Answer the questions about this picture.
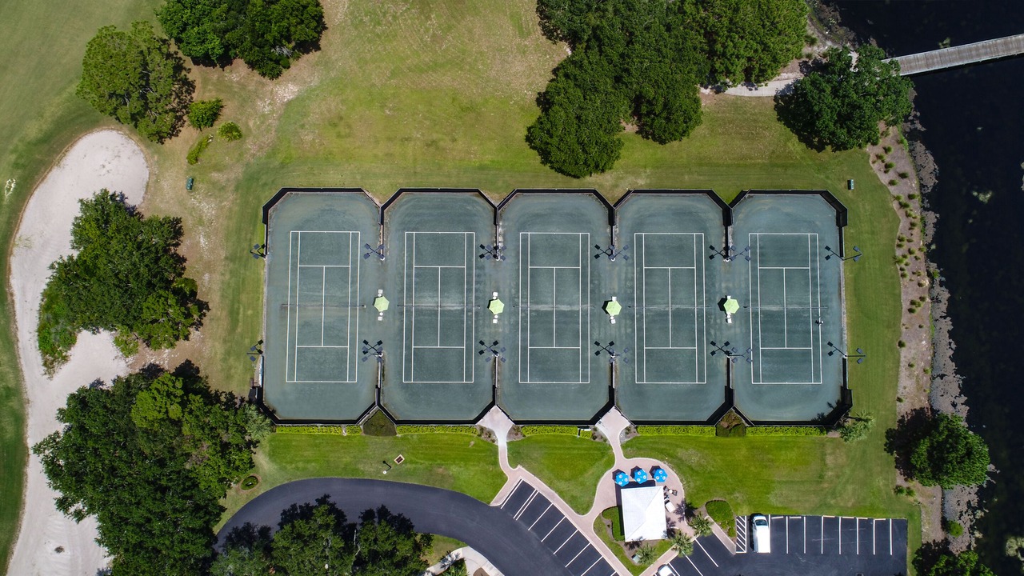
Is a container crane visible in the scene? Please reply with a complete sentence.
No, I can see no container crane in this picture.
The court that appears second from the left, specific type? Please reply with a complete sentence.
The court that appears second from the left is a tennis court.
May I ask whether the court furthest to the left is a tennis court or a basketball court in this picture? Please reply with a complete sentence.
From above, the court furthest to the left can be identified as a tennis court.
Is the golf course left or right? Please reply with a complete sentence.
The golf course sits on the left side.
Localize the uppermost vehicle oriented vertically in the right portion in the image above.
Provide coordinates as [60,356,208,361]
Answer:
[753,516,770,554]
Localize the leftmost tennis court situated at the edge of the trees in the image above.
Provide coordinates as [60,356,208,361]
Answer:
[263,191,382,422]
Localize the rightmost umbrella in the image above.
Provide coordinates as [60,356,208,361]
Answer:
[722,298,738,314]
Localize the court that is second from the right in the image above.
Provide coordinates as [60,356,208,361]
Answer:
[612,193,729,424]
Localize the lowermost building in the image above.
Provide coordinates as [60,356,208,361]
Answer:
[621,486,667,542]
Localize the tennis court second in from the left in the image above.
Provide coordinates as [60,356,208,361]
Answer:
[380,192,497,423]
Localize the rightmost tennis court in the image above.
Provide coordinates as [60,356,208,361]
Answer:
[726,194,846,425]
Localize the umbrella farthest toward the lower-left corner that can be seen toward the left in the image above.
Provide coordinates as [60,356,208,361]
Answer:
[374,297,389,312]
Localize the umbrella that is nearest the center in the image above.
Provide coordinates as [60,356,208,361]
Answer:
[489,299,504,314]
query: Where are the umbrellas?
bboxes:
[374,297,389,312]
[722,298,738,314]
[616,472,629,486]
[489,299,504,314]
[634,470,647,483]
[606,300,621,316]
[654,470,667,482]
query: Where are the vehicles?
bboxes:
[660,563,679,576]
[664,499,677,514]
[753,516,770,554]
